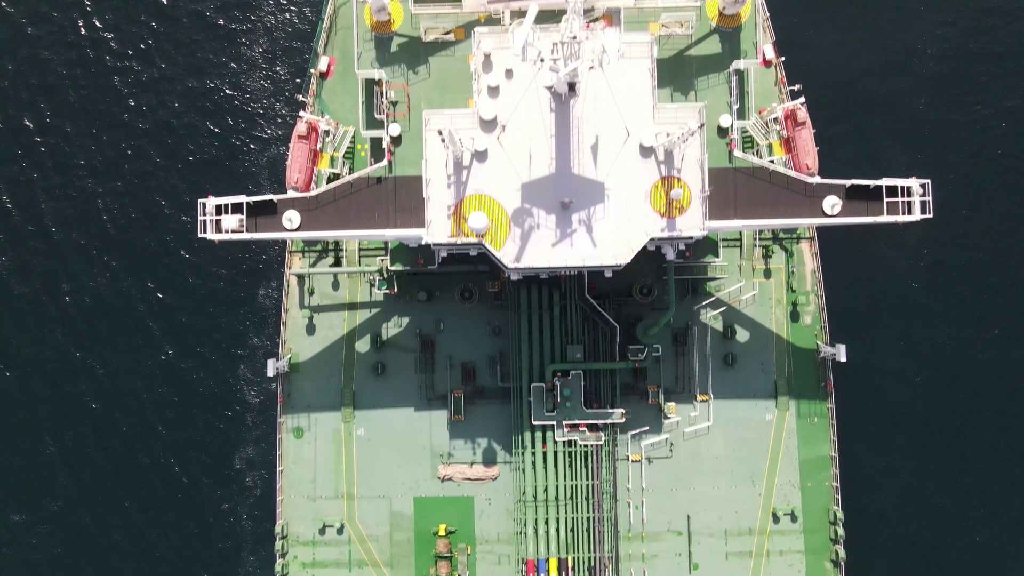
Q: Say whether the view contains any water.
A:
Yes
